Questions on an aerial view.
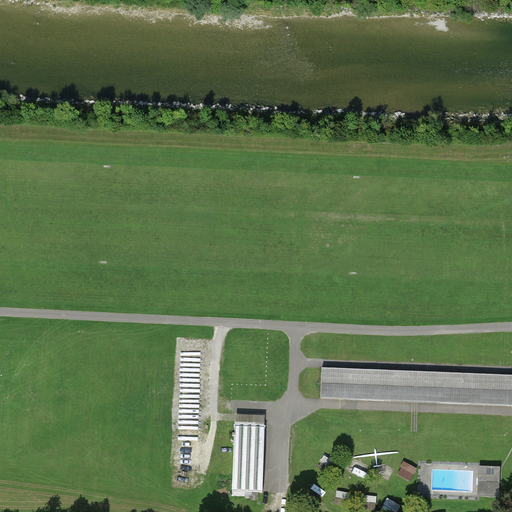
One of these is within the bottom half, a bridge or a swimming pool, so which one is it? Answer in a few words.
swimming pool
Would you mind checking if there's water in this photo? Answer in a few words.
Yes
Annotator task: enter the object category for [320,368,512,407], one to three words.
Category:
hangar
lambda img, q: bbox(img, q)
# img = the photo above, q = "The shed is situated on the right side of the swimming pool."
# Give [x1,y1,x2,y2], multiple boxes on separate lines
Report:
[478,466,500,498]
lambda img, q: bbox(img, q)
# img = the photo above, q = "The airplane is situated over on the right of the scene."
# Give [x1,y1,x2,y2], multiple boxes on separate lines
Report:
[354,449,398,468]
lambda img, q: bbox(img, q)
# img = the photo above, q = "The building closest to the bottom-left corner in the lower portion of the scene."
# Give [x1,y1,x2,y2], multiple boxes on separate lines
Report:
[232,412,266,500]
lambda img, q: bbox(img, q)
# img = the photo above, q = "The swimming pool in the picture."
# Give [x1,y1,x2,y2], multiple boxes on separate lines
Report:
[418,461,480,500]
